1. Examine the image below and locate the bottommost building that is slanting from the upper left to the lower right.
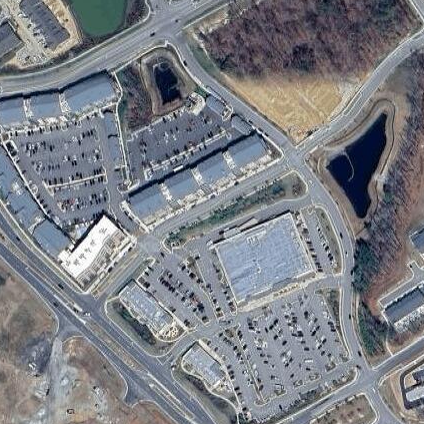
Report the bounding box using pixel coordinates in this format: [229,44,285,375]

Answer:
[184,342,227,388]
